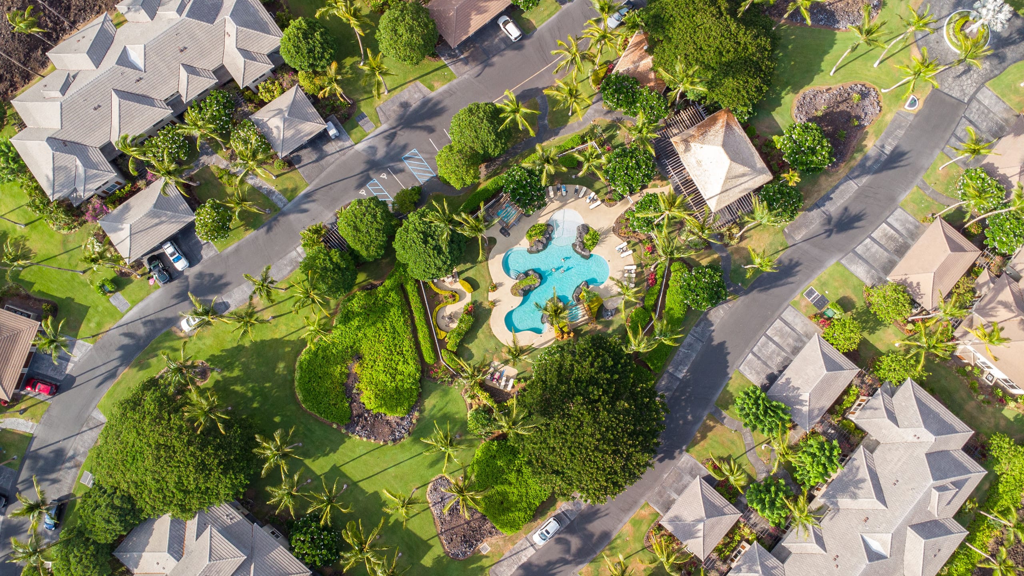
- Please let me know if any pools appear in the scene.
Yes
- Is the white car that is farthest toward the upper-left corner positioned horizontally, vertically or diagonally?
diagonally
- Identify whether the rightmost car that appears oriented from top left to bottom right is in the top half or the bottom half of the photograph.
top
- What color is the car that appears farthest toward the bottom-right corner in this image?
white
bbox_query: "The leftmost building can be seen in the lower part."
[0,306,48,402]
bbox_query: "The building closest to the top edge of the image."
[424,0,515,48]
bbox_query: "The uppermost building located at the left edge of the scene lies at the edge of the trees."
[8,0,282,207]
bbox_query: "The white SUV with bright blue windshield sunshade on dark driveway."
[161,240,188,272]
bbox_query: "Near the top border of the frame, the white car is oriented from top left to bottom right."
[498,13,523,44]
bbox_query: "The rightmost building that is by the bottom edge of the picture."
[724,378,988,576]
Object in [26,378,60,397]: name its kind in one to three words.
car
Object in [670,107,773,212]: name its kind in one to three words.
building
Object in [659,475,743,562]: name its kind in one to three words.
building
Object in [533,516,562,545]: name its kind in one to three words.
car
